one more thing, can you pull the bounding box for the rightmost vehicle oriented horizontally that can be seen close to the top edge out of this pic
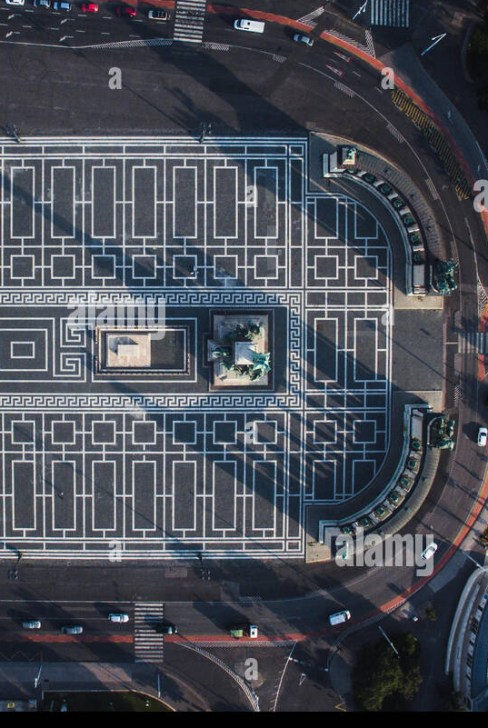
[293,35,315,47]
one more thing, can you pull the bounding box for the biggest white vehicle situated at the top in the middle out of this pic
[234,18,264,33]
